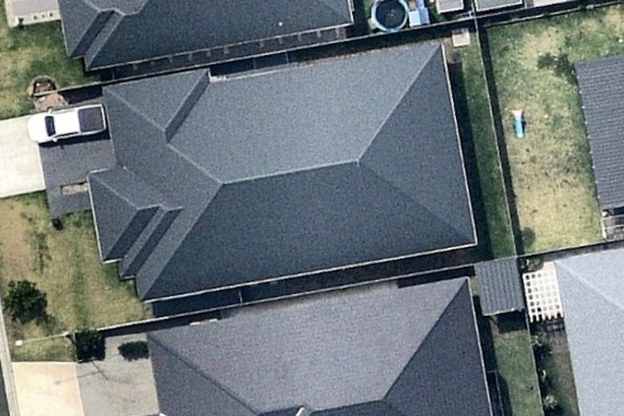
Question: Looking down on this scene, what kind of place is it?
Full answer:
The area seen from above is a residential area.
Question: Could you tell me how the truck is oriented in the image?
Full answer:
What the image shows is the truck lying horizontally.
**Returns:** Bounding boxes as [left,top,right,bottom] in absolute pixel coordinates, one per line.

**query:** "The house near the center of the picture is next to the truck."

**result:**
[86,41,478,304]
